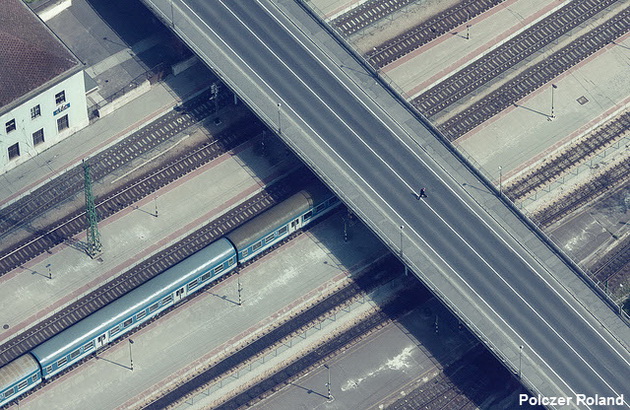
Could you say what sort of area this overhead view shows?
rail yard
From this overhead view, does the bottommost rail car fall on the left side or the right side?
left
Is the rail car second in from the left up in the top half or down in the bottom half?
bottom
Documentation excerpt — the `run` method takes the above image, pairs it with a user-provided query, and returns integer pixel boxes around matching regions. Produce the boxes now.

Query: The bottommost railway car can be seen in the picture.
[0,350,41,405]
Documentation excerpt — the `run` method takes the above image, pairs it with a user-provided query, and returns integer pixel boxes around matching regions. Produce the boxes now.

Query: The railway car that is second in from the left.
[27,233,237,379]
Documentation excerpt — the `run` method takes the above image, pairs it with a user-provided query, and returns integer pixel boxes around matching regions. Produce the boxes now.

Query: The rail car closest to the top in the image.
[223,175,342,262]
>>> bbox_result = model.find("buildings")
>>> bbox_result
[0,0,99,175]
